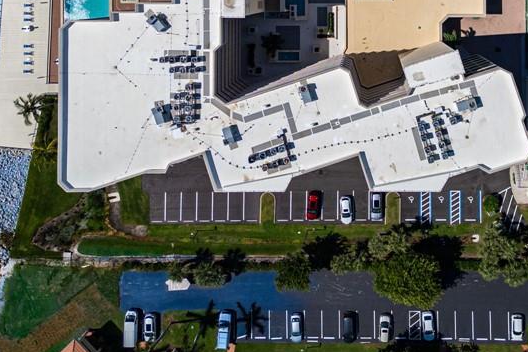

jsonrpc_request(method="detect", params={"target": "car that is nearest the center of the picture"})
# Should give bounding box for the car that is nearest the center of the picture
[307,190,320,219]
